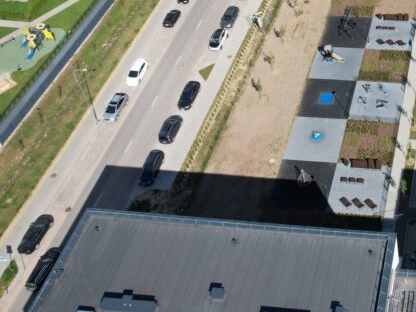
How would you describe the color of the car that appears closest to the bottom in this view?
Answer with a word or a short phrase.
black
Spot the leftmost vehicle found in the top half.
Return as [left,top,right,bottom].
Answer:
[102,94,130,123]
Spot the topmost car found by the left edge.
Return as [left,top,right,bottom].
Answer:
[18,215,55,255]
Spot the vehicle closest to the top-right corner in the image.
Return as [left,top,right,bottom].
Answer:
[220,7,240,28]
